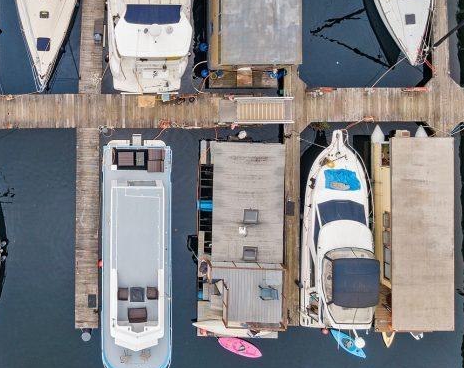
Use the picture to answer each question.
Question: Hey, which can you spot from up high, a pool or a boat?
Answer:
boat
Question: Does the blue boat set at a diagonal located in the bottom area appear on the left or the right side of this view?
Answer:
right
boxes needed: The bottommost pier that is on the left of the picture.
[75,129,100,327]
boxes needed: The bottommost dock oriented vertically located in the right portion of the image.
[283,90,321,327]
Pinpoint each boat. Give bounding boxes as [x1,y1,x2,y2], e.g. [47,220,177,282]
[331,332,367,360]
[299,123,380,350]
[106,0,194,96]
[384,332,396,349]
[197,140,286,338]
[370,0,464,68]
[192,322,272,341]
[207,0,302,91]
[411,333,425,342]
[17,0,78,93]
[370,124,455,333]
[100,134,173,368]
